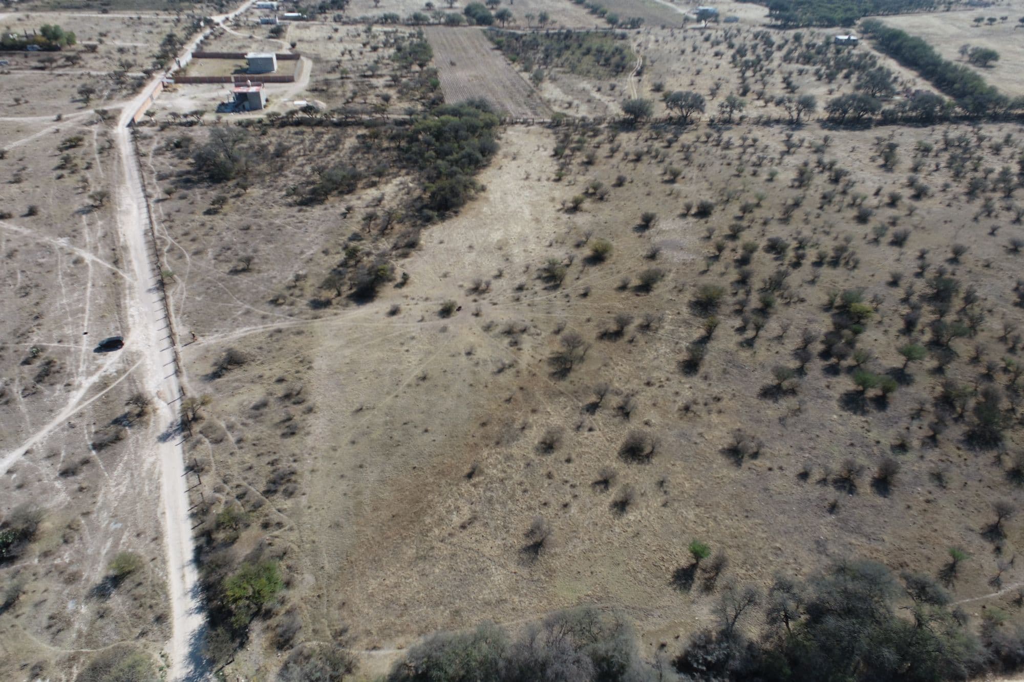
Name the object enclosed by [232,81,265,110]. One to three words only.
house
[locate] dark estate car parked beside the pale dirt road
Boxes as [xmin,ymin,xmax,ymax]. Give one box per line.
[95,334,127,351]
